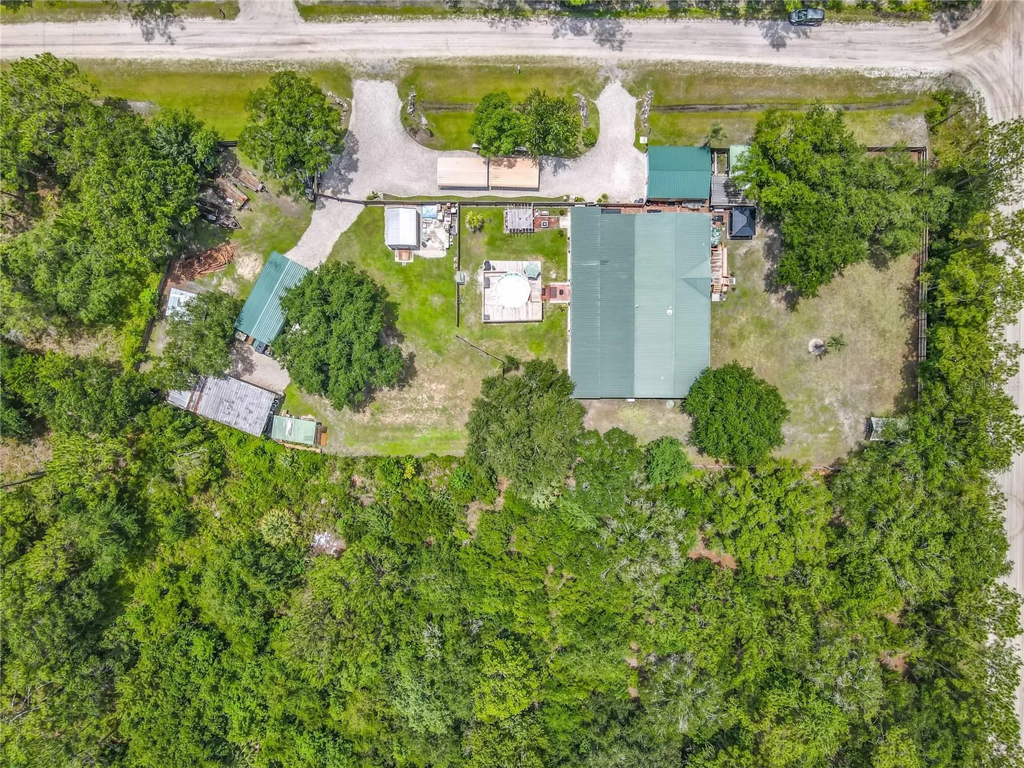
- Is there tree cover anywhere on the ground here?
Yes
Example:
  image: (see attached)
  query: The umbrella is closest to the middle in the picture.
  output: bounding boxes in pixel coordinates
[525,264,540,277]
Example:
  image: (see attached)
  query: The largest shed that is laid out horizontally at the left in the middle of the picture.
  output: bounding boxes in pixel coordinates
[168,374,278,437]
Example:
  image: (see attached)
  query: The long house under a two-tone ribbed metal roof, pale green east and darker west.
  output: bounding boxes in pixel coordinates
[569,206,714,399]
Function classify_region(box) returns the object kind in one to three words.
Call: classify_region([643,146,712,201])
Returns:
building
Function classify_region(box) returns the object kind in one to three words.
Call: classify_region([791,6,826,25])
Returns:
car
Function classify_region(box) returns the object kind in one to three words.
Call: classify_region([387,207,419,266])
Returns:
shed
